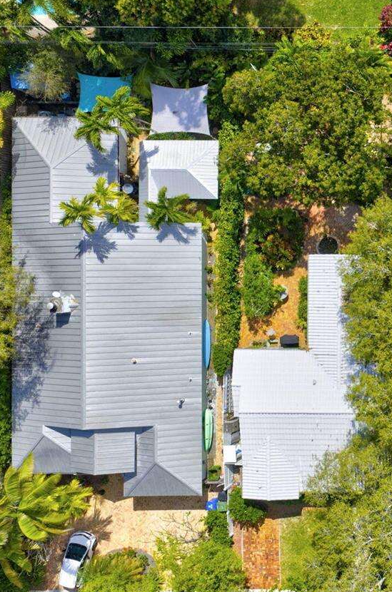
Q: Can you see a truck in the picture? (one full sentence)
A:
No, the photo shows no truck.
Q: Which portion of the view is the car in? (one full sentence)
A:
The car appears toward the bottom left of the photo.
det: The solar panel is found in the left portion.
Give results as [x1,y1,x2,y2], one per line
[55,311,69,328]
